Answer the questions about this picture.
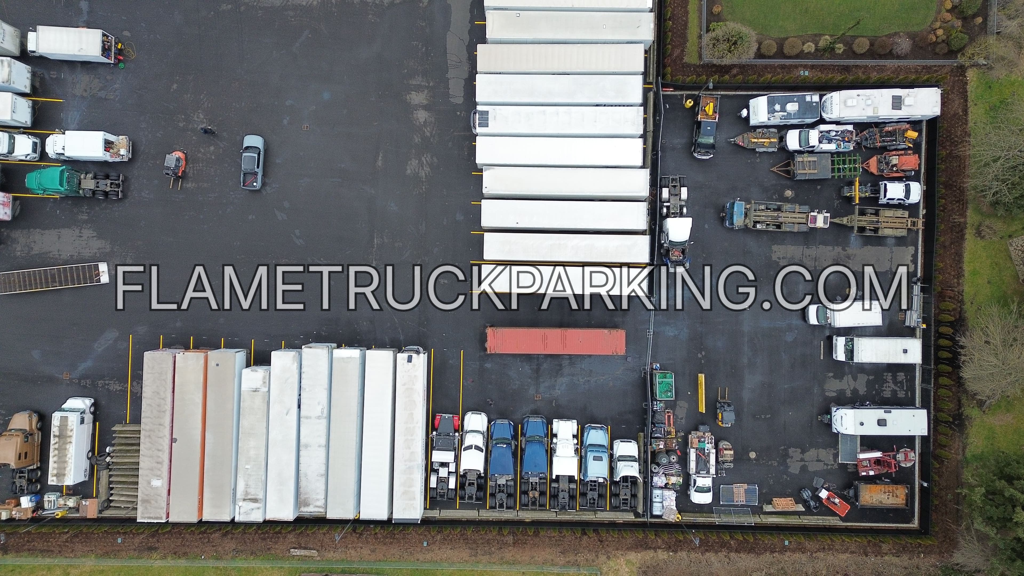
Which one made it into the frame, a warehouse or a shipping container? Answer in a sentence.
Visible in the photo is a shipping container.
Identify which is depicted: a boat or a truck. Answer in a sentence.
Of the two, only a truck appears.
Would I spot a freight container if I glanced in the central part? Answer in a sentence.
Yes, a freight container appears in the central part.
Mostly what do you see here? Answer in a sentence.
What you mostly see from above here is paved ground.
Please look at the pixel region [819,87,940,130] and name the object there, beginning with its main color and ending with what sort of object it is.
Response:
white camper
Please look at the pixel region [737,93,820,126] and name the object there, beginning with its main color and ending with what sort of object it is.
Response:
white vehicle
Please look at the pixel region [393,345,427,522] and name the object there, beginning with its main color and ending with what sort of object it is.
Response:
white trailer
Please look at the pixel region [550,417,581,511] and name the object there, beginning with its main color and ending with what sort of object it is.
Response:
white truck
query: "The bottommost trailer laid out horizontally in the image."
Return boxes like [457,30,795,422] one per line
[840,478,911,509]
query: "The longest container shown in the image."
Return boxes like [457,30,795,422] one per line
[486,326,625,354]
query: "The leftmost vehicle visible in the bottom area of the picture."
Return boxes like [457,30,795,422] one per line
[0,409,46,496]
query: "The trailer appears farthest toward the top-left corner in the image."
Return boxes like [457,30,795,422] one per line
[0,18,22,57]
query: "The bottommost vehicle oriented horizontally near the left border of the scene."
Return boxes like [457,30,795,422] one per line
[26,162,123,199]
